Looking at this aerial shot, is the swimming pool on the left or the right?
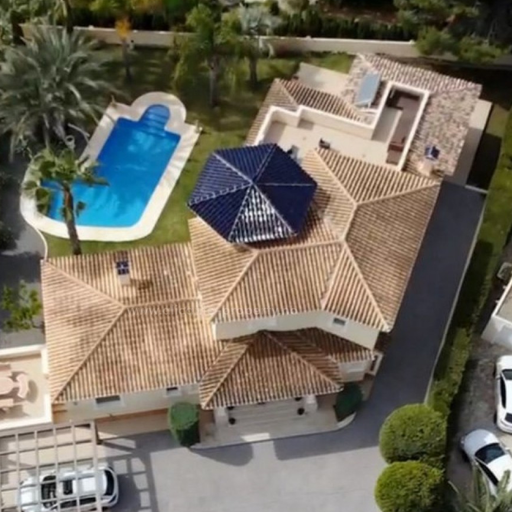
left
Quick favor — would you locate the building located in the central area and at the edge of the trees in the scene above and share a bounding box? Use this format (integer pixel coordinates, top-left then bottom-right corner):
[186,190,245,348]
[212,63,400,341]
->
[41,52,482,448]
